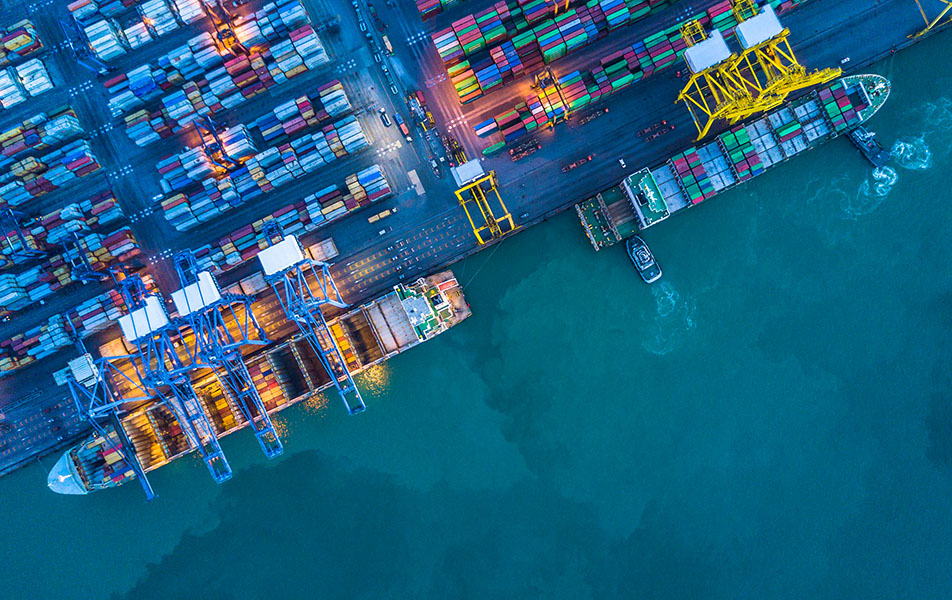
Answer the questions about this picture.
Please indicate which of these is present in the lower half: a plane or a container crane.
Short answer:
container crane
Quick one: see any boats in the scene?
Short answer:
Yes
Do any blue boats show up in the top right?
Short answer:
Yes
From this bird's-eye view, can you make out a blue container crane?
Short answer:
Yes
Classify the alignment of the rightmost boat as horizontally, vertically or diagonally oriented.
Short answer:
diagonally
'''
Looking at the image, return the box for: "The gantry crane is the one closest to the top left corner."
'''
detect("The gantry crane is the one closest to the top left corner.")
[24,24,91,91]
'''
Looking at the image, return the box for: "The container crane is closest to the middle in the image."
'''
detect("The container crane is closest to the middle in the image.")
[446,140,519,245]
